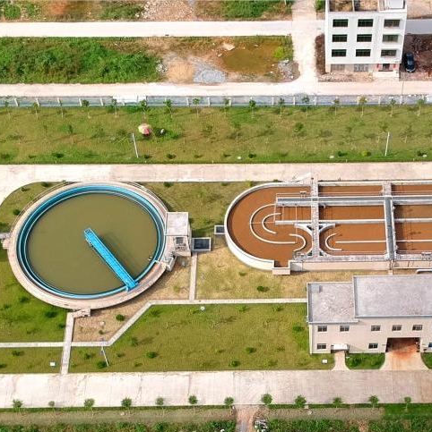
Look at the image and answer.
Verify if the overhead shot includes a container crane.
No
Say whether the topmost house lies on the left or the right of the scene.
right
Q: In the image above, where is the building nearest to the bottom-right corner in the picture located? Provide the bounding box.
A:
[307,272,432,354]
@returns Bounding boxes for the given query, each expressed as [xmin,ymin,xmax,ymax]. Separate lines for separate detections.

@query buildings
[307,272,432,354]
[162,212,191,275]
[323,0,405,79]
